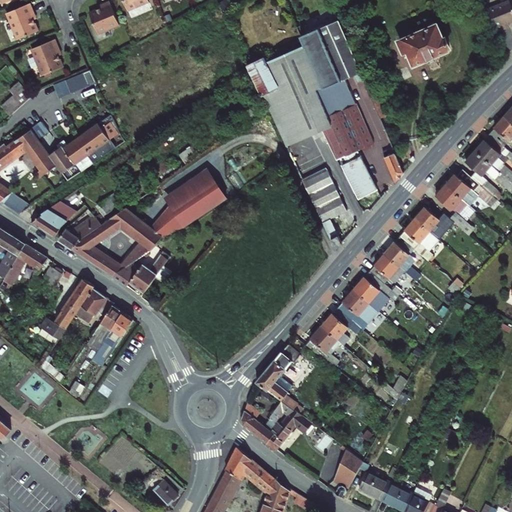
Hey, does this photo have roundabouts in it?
Yes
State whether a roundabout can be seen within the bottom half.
Yes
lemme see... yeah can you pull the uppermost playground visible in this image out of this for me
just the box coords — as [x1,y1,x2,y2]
[12,364,62,415]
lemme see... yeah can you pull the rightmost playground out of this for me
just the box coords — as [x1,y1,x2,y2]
[70,426,106,460]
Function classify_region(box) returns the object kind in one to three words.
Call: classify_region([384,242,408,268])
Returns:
house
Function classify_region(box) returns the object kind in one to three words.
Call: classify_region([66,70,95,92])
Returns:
building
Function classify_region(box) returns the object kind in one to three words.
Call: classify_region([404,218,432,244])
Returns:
house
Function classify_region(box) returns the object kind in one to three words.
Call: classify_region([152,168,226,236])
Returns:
hangar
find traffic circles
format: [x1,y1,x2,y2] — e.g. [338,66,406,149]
[174,376,240,442]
